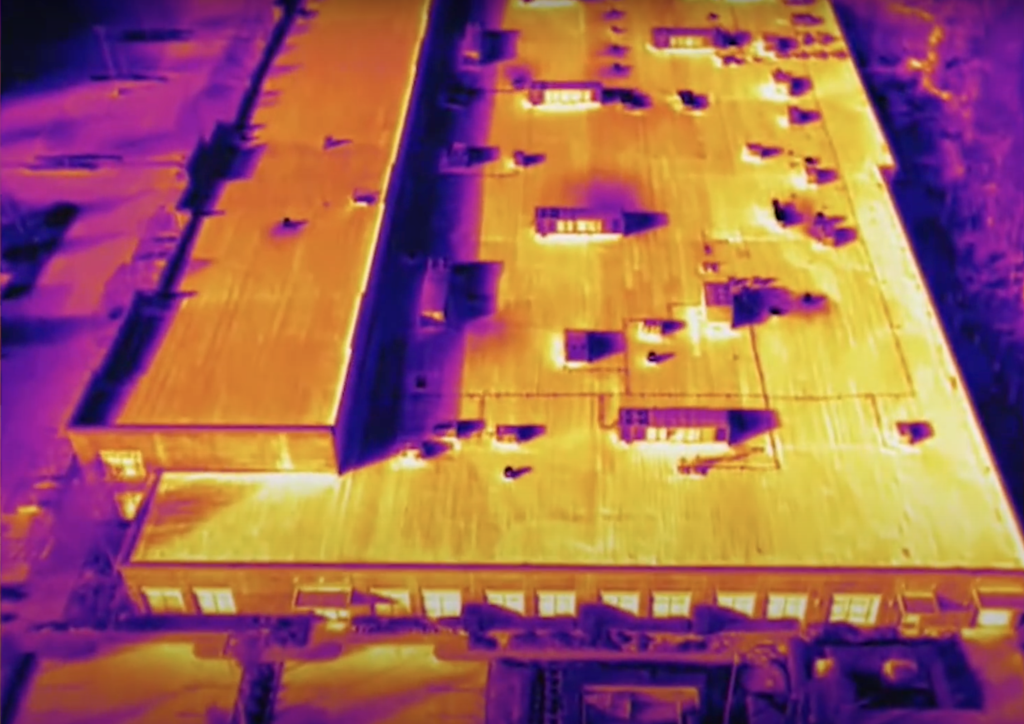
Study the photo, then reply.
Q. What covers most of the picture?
buildings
